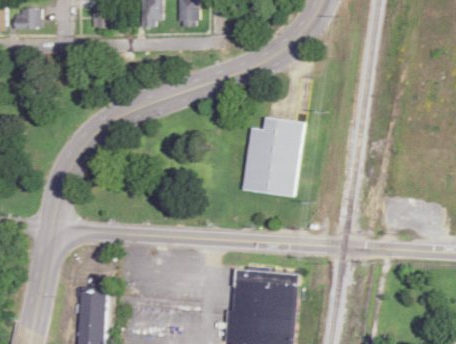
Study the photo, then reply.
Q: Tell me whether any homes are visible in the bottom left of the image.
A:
Yes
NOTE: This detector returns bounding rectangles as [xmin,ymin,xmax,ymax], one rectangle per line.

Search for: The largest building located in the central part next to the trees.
[244,117,308,198]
